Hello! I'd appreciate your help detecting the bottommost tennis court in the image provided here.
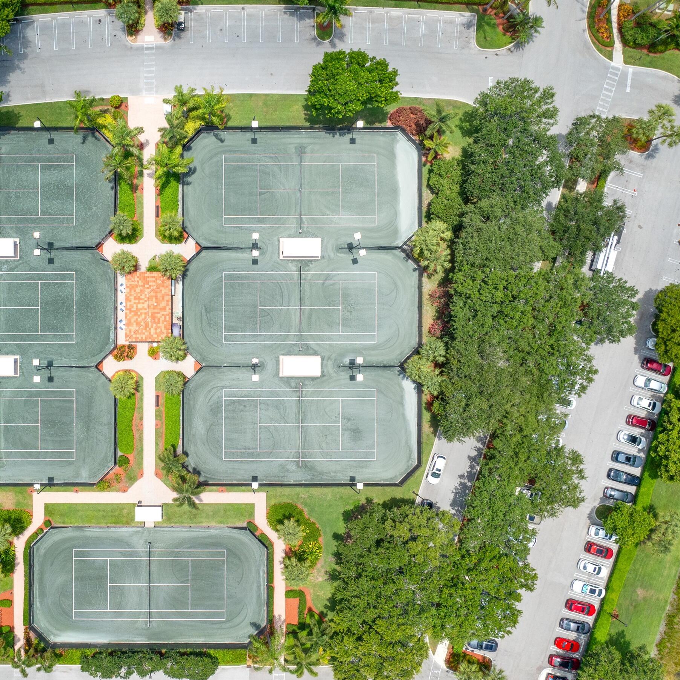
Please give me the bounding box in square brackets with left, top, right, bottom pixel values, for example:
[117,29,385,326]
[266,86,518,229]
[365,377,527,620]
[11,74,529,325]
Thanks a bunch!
[33,529,265,641]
